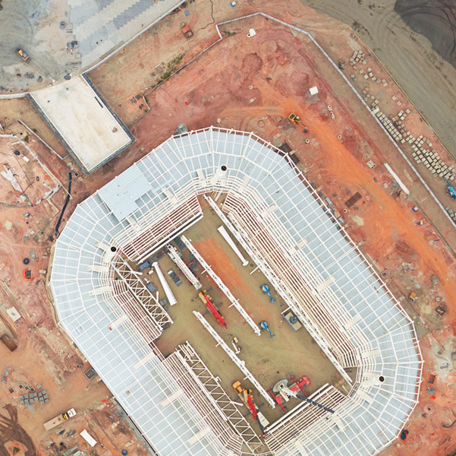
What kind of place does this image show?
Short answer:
sports ground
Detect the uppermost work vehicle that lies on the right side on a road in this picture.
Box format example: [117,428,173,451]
[287,112,307,133]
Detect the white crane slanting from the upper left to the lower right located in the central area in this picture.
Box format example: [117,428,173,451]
[165,244,202,290]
